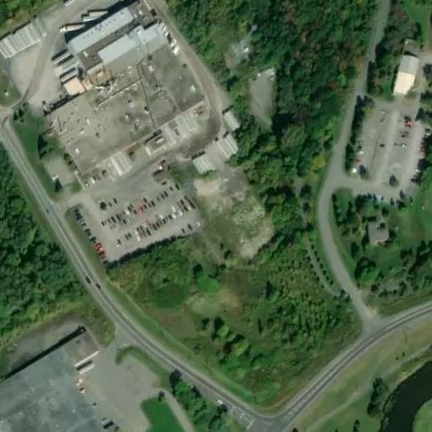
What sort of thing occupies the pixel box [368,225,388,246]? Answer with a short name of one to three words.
house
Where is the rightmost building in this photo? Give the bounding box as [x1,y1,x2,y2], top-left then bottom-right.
[394,41,421,96]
